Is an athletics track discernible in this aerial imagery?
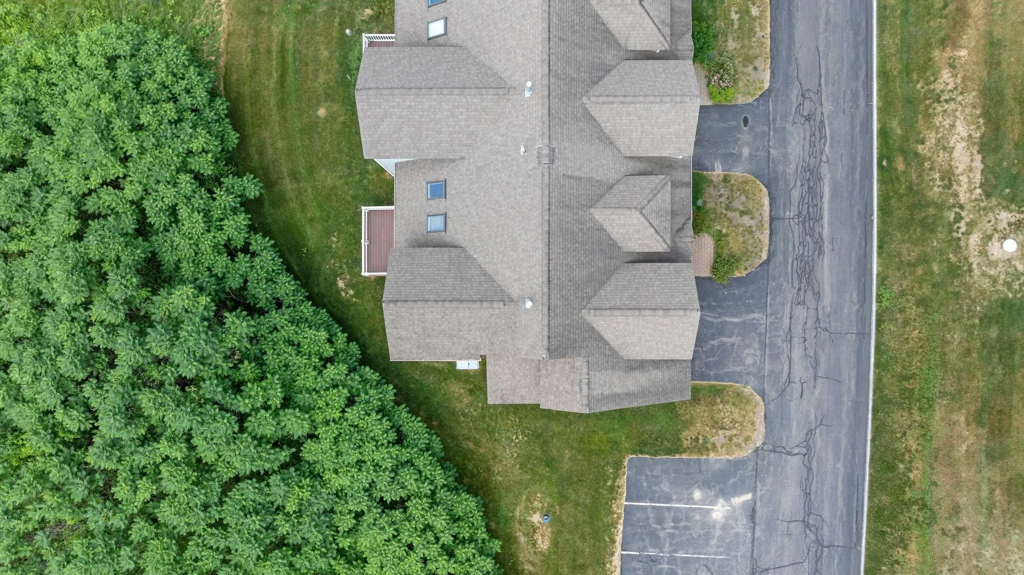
No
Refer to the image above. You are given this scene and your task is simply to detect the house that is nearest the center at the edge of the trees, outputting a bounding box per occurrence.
[355,0,703,413]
